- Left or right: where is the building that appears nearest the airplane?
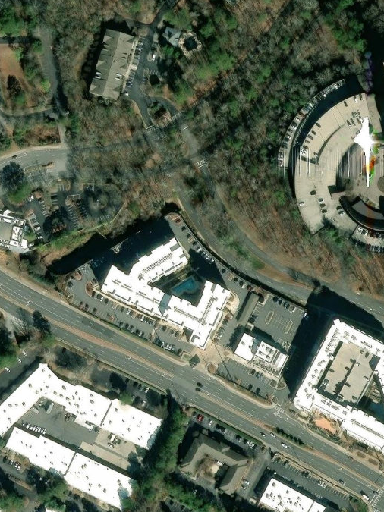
right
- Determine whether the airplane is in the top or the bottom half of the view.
top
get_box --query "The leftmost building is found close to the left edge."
[0,210,31,255]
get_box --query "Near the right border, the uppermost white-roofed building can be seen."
[295,319,384,455]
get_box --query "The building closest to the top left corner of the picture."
[89,27,135,102]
